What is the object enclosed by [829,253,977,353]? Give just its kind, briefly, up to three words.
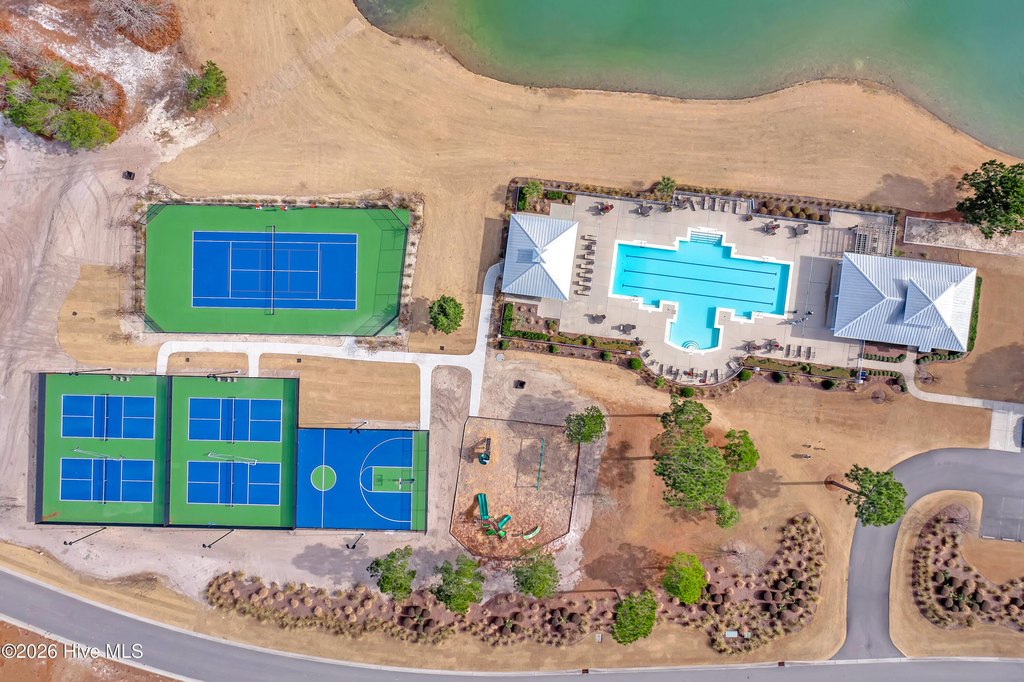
building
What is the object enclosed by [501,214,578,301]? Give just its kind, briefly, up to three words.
building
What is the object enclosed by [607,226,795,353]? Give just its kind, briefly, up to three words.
swimming pool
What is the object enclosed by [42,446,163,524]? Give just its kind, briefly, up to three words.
sports court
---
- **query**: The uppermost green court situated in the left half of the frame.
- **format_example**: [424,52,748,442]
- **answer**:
[143,204,409,335]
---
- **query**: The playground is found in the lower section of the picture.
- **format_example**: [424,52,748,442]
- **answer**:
[449,416,579,558]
